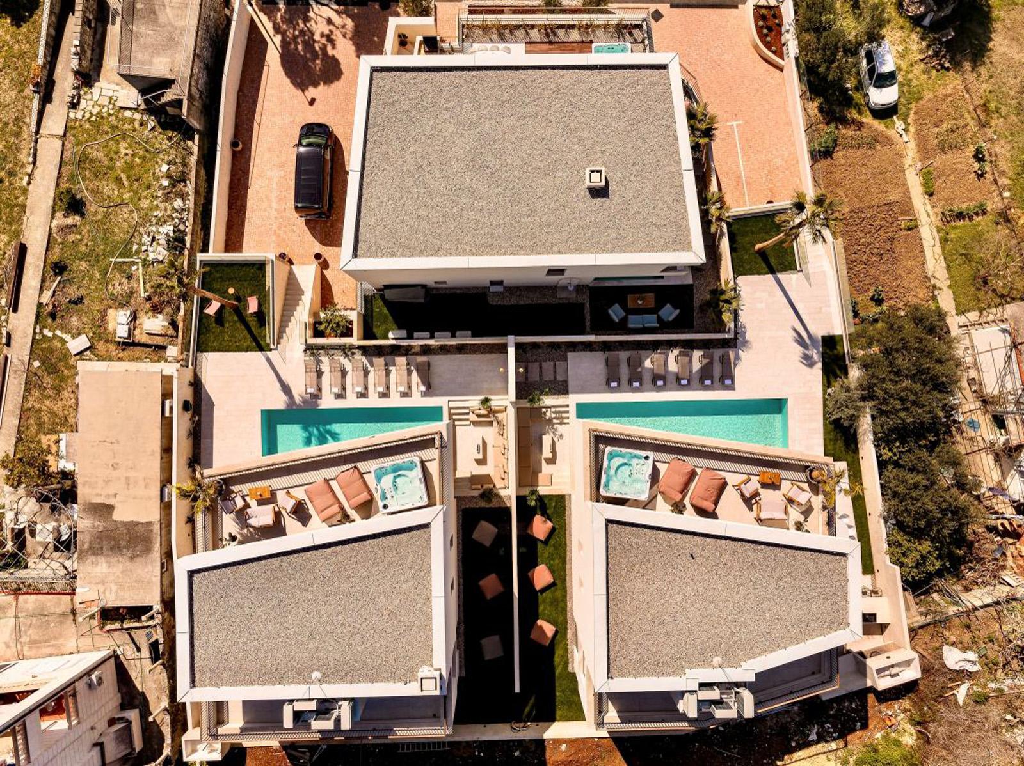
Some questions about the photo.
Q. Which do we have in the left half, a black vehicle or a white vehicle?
black vehicle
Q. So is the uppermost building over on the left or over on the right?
left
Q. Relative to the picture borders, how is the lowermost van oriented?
from top to bottom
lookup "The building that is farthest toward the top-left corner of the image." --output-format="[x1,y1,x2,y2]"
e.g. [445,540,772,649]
[119,0,225,146]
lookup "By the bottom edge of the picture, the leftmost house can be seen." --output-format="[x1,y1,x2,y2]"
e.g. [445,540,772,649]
[0,651,127,766]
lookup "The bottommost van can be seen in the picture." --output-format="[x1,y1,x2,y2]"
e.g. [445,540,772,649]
[292,125,334,219]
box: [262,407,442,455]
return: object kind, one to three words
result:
swimming pool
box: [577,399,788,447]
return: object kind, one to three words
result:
swimming pool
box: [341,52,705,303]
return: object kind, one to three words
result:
house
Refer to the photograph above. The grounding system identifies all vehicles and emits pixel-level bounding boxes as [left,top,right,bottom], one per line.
[856,42,900,118]
[292,125,334,219]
